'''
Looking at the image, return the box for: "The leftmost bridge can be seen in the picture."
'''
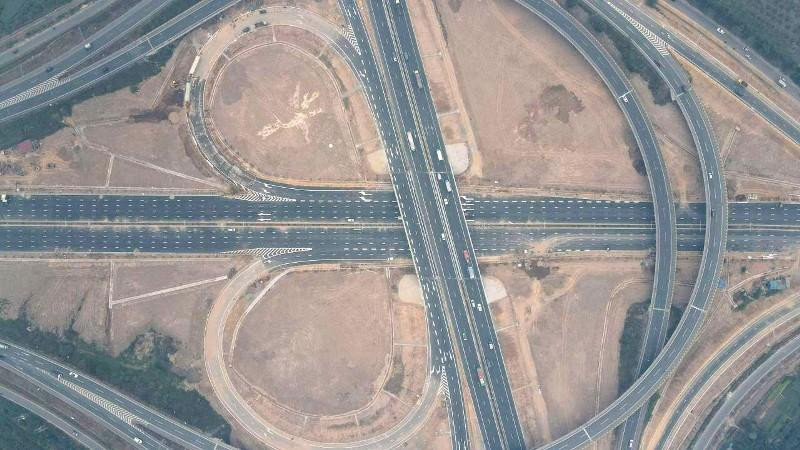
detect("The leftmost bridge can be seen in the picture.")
[387,170,483,280]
